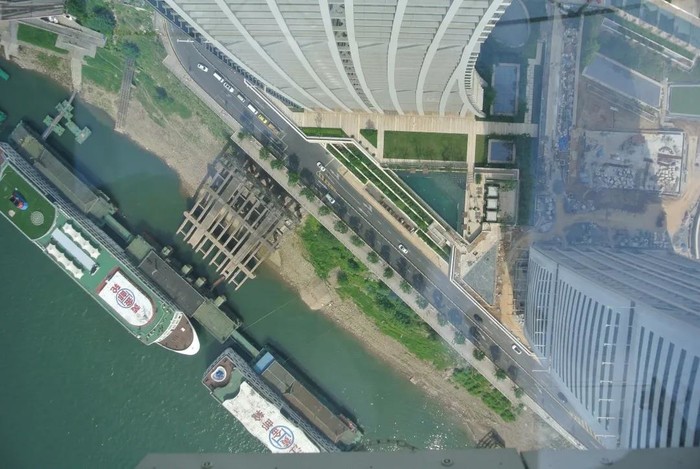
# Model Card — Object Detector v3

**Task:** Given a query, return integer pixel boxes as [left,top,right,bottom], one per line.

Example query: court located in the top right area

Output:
[665,83,700,116]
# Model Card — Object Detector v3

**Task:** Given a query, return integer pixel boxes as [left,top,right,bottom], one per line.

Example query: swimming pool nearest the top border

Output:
[489,0,532,45]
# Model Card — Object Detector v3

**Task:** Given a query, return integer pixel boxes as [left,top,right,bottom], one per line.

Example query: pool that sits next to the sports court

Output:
[582,53,662,111]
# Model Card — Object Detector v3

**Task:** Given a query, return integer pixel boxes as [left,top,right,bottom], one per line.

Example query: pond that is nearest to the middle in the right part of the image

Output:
[385,168,467,239]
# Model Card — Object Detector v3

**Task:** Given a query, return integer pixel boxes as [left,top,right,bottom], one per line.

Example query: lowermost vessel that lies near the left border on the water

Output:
[0,143,205,353]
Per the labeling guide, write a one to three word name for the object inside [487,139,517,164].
swimming pool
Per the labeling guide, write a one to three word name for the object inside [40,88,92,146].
pier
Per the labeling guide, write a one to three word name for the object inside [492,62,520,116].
swimming pool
